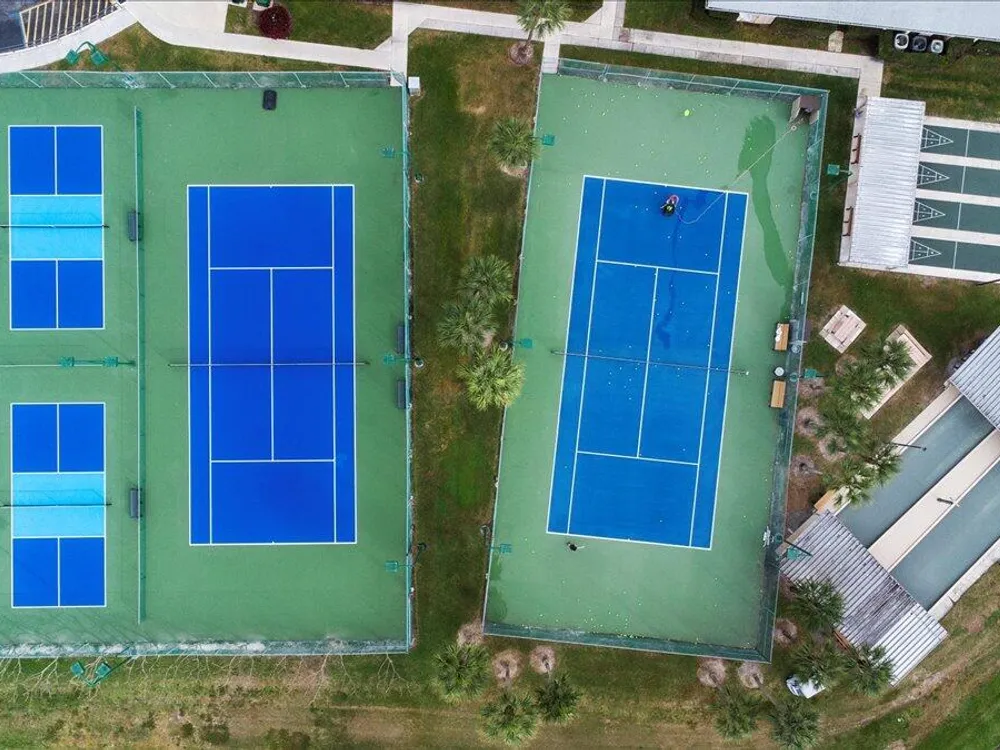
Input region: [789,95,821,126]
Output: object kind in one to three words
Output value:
shed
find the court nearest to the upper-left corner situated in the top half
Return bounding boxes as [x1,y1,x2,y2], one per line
[0,87,144,365]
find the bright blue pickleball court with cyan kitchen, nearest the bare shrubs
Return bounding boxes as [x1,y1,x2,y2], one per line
[0,364,146,644]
